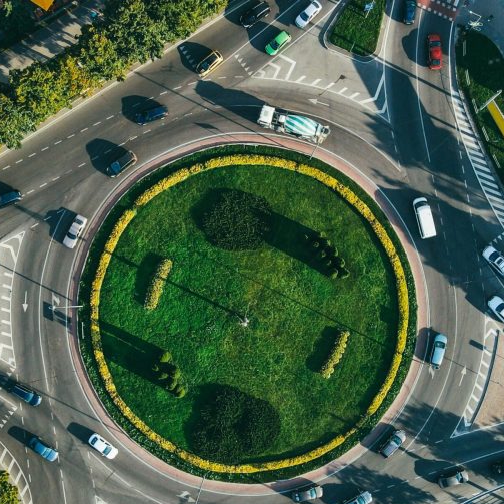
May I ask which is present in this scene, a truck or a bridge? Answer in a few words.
truck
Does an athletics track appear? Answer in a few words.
No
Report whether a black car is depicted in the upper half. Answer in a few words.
Yes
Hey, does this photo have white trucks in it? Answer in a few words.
Yes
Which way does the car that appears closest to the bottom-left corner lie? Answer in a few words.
diagonally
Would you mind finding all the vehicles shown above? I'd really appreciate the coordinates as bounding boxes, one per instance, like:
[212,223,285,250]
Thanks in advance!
[106,150,138,179]
[63,215,89,249]
[27,435,59,461]
[0,190,24,212]
[481,245,504,277]
[292,484,323,501]
[378,429,406,458]
[194,49,223,78]
[263,29,293,59]
[428,332,448,368]
[425,35,444,72]
[437,469,468,488]
[87,433,119,458]
[340,489,373,504]
[9,382,44,407]
[294,0,323,32]
[401,0,419,27]
[253,101,329,142]
[239,0,272,30]
[486,295,504,324]
[413,196,438,239]
[135,105,168,128]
